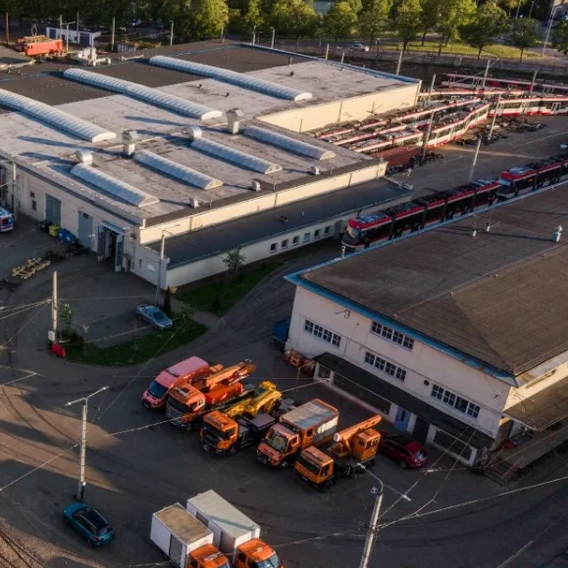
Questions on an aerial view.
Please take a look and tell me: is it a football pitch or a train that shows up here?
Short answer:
train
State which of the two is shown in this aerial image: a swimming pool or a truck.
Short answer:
truck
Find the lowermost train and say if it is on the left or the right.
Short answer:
right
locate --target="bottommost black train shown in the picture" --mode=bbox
[325,182,493,254]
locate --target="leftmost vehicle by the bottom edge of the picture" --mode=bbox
[63,500,115,548]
